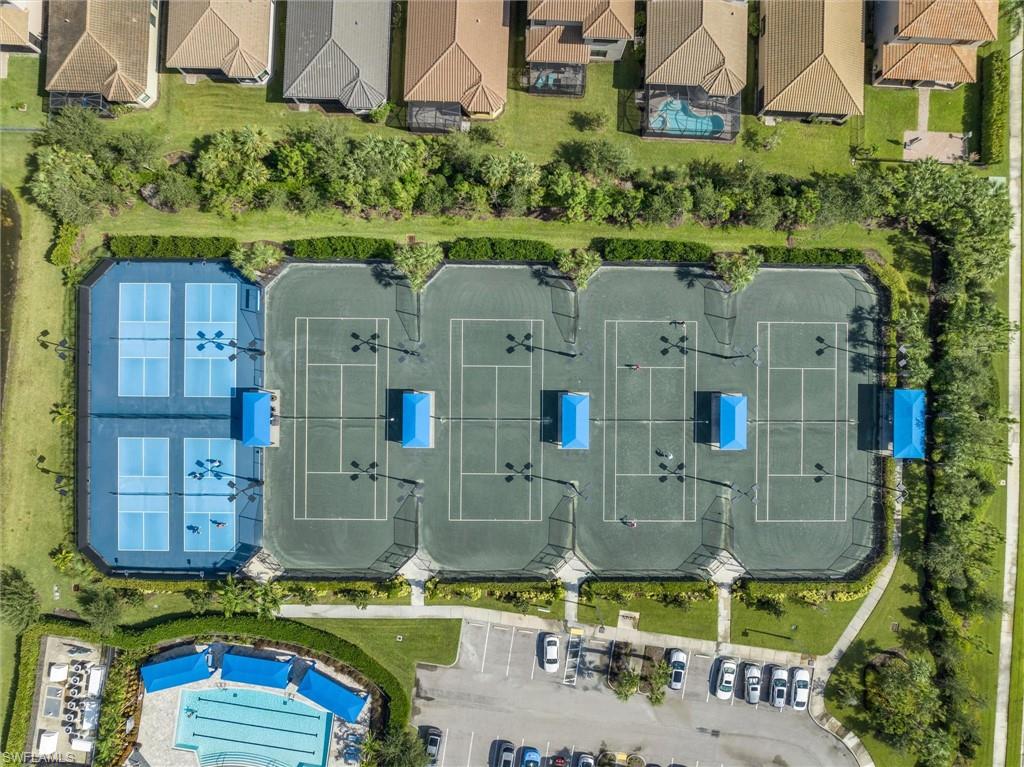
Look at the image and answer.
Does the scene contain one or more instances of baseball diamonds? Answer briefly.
No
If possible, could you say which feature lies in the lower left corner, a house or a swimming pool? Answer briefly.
swimming pool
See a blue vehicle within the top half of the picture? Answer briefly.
No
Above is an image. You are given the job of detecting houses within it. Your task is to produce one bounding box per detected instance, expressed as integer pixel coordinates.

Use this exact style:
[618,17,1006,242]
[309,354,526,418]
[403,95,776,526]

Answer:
[45,0,158,110]
[757,0,865,120]
[873,0,998,87]
[525,0,634,71]
[165,0,275,88]
[645,0,746,105]
[284,0,390,118]
[405,0,507,121]
[0,0,41,53]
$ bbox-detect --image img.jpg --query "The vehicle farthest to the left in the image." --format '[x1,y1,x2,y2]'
[423,728,443,767]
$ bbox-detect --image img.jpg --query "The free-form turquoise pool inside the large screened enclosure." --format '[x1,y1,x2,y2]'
[649,97,725,135]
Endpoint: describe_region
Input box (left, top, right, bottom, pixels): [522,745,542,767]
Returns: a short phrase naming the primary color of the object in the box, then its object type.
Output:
blue car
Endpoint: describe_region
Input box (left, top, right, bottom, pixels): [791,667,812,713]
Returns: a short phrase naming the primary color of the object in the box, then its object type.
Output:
white car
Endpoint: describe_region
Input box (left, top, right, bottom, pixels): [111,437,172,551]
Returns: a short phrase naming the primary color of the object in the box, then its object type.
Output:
blue sports court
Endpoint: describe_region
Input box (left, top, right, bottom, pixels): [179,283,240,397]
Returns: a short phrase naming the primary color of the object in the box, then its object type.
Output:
blue sports court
